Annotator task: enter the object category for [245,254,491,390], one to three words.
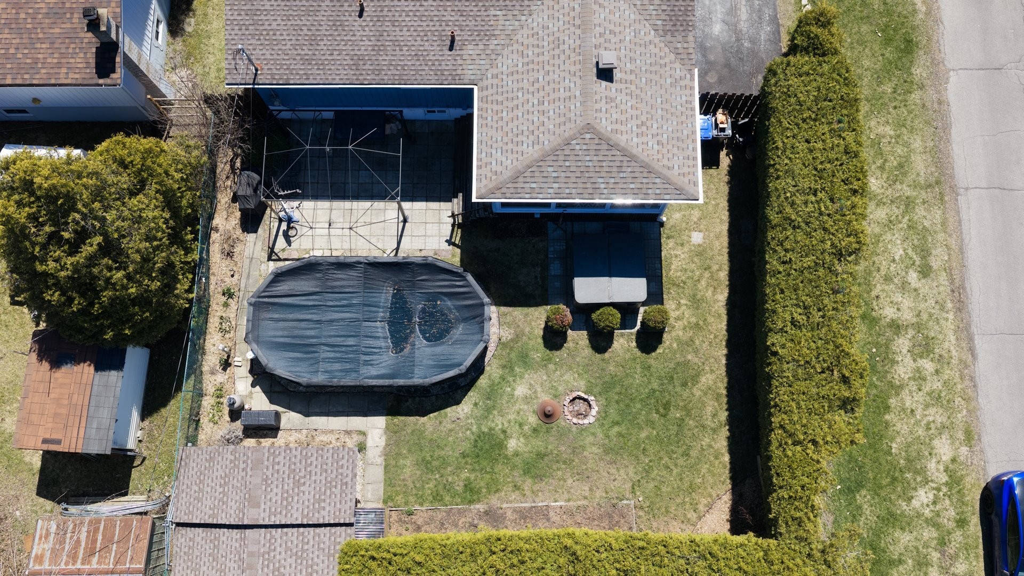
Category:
swimming pool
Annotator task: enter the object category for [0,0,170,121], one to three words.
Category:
house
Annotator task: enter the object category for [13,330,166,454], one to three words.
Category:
shed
